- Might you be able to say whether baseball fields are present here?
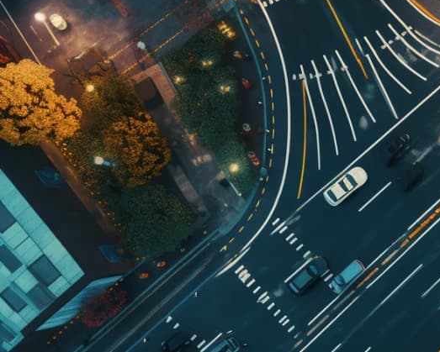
No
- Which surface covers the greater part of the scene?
paved ground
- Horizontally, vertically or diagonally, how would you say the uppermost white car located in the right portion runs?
diagonally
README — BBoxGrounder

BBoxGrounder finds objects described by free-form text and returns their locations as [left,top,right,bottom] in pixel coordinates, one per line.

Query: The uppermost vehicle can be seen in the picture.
[47,11,72,33]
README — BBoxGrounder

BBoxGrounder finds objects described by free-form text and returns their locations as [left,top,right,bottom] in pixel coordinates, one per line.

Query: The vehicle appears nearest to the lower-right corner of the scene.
[326,257,367,297]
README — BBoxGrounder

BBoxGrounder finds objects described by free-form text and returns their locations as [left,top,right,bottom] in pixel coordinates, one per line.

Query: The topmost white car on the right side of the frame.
[323,162,370,208]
